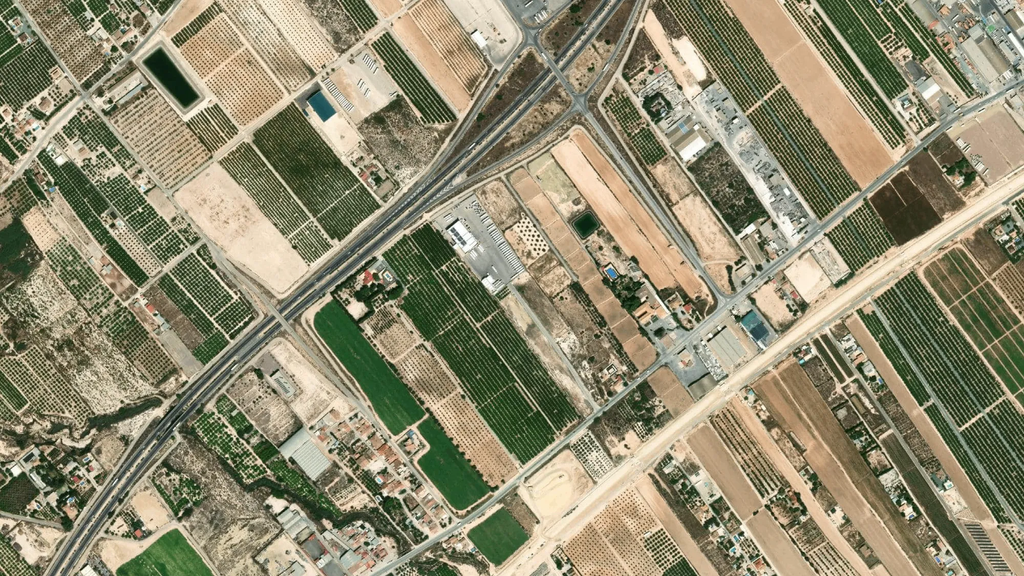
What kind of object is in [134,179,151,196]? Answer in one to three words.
swimming pool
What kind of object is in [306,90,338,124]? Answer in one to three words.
building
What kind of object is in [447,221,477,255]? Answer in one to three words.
building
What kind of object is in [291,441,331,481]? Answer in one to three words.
greenhouse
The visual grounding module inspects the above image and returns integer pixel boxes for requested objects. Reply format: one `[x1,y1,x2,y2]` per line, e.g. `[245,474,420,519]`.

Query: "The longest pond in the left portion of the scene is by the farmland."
[135,41,204,114]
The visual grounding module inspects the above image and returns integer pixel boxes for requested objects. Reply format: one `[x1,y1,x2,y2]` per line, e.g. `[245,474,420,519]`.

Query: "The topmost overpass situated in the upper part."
[530,39,582,104]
